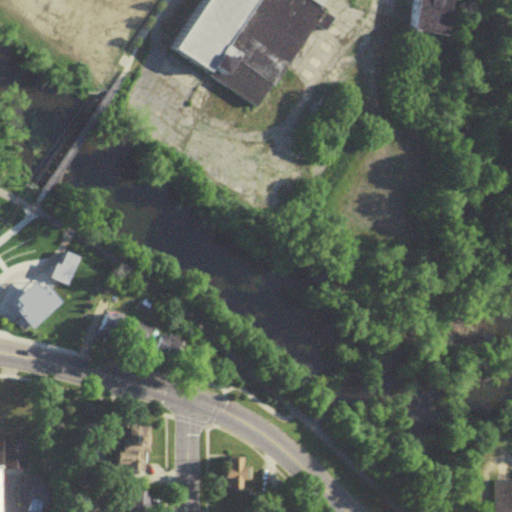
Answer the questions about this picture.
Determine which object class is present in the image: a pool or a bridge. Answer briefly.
bridge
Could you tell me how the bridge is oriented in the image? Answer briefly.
diagonally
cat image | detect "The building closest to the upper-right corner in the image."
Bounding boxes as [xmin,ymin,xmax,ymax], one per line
[412,0,456,37]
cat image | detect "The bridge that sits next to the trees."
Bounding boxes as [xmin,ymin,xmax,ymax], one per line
[20,66,127,202]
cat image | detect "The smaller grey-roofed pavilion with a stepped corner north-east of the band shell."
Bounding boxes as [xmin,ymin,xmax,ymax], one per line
[52,251,82,286]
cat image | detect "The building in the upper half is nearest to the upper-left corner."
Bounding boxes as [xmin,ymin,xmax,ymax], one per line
[172,0,262,73]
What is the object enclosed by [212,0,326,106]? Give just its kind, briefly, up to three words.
building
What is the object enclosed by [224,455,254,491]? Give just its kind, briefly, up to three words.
house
